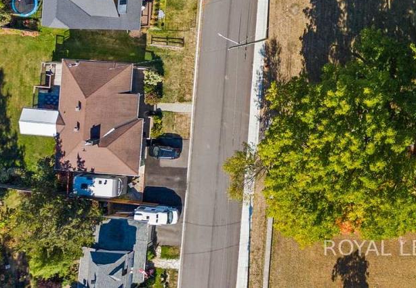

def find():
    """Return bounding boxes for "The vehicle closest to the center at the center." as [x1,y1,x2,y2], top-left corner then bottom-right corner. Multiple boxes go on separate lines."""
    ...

[150,144,184,160]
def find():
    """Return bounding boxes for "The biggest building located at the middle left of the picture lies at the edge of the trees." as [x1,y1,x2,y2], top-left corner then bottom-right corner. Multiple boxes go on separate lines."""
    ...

[55,58,150,178]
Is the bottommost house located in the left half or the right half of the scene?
left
